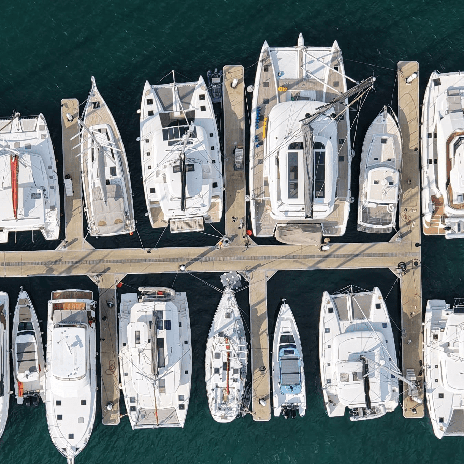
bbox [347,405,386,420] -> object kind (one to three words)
boat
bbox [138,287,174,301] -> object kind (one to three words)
boat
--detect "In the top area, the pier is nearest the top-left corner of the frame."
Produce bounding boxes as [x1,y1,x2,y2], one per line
[55,98,95,250]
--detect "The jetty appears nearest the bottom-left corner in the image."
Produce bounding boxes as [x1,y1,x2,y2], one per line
[87,274,126,425]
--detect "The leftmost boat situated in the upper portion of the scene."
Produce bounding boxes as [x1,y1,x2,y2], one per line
[0,110,60,243]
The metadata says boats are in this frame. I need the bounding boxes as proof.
[138,287,174,301]
[239,382,253,417]
[0,110,60,243]
[418,69,464,235]
[47,290,96,464]
[208,72,224,101]
[140,70,222,233]
[273,297,305,418]
[65,76,135,236]
[249,34,378,236]
[206,282,253,424]
[422,297,464,438]
[316,285,415,417]
[120,292,191,428]
[442,217,464,239]
[347,405,386,420]
[357,106,405,233]
[12,286,46,406]
[0,291,9,432]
